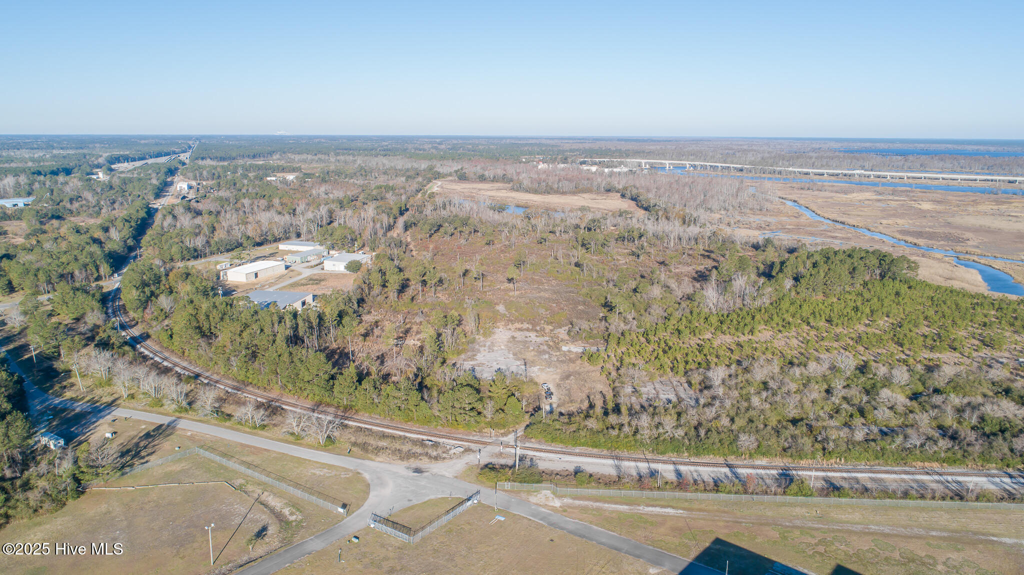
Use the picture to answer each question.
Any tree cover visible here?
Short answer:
Yes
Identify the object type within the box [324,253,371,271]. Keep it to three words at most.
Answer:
building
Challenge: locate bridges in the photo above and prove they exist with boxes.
[546,159,1024,184]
